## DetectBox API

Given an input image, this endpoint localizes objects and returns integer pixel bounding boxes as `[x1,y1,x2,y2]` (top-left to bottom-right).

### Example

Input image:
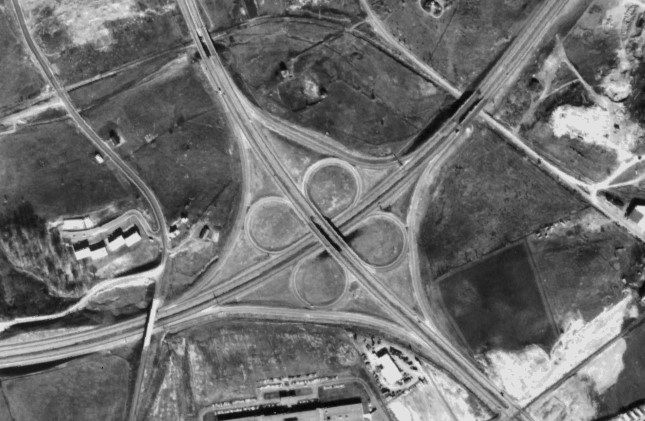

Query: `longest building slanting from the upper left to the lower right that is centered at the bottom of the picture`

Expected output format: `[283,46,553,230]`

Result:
[377,353,403,384]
